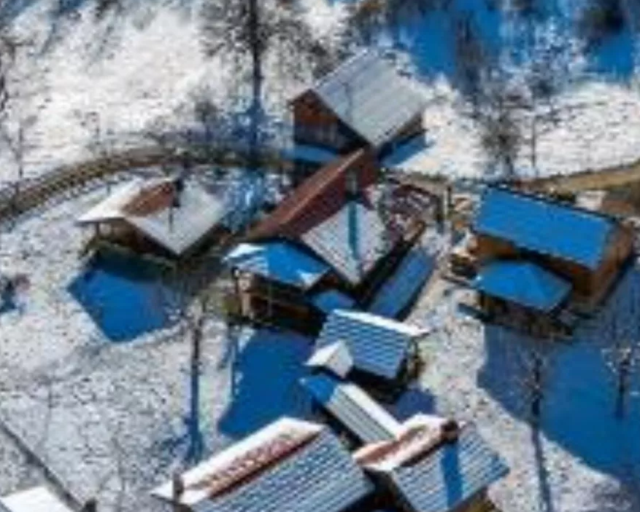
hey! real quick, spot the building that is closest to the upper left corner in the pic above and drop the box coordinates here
[84,163,228,288]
